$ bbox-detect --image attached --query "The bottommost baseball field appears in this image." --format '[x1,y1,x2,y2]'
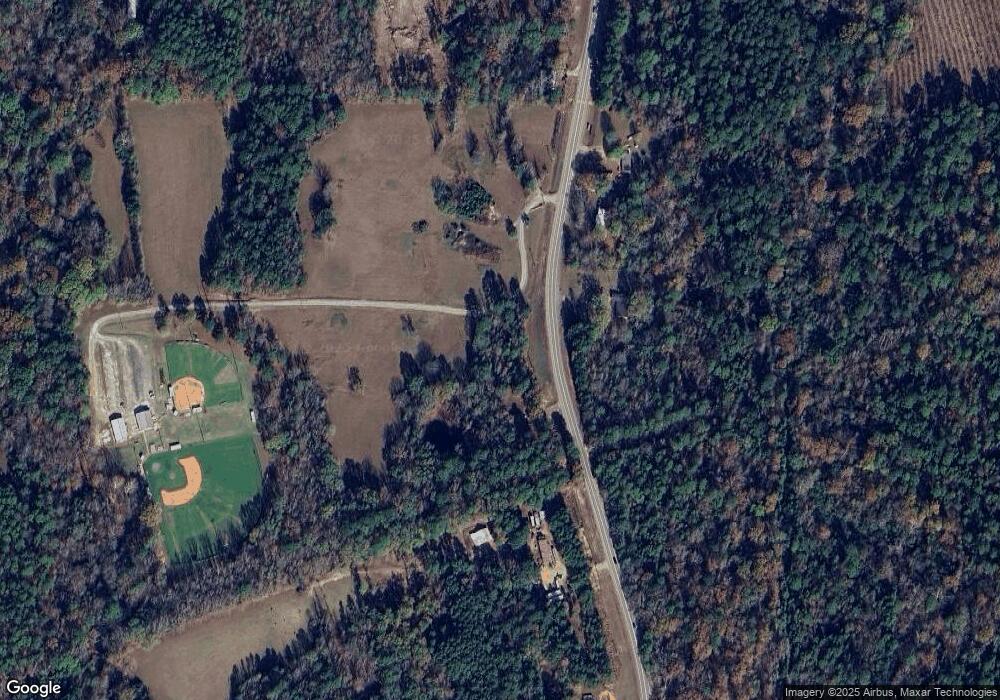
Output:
[146,436,265,561]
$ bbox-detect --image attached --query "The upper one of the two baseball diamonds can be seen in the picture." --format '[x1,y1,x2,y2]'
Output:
[165,344,243,413]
